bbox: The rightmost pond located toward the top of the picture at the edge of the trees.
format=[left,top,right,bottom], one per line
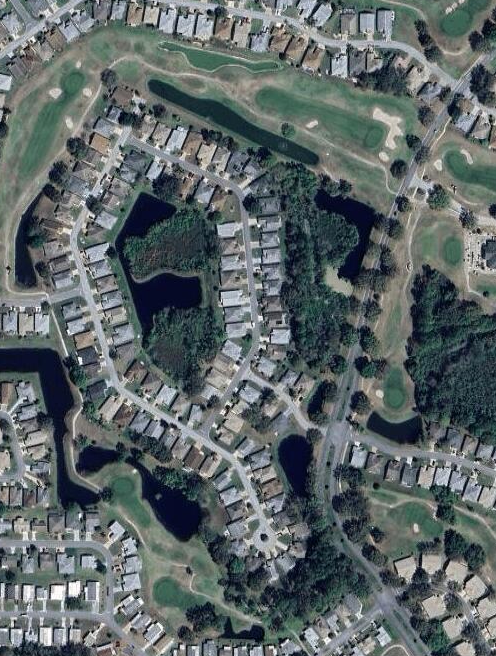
[315,187,376,279]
